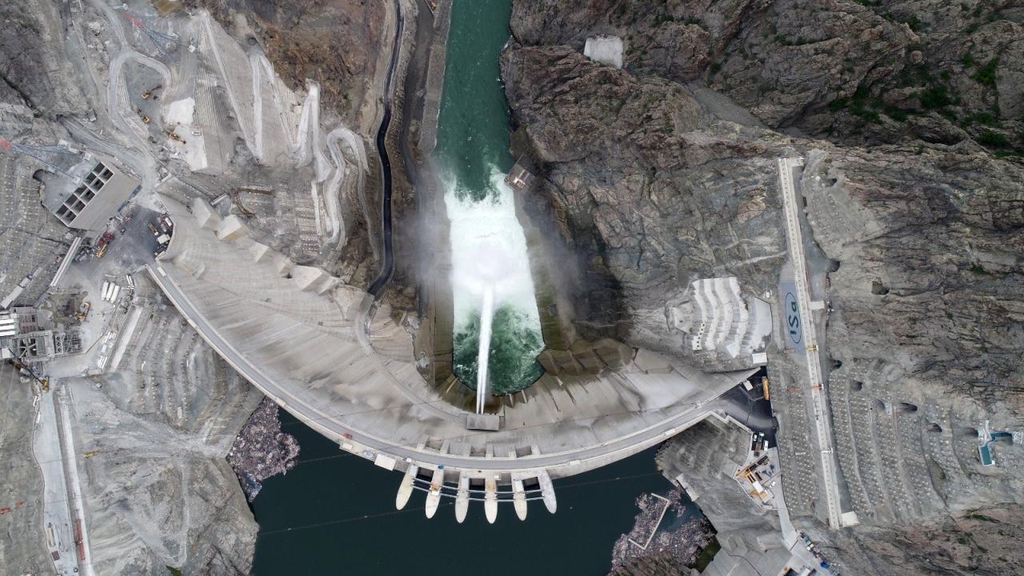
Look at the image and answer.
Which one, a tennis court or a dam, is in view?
dam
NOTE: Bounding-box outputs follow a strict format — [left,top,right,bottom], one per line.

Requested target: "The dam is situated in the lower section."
[150,193,763,524]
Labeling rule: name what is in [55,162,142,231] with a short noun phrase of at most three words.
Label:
building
